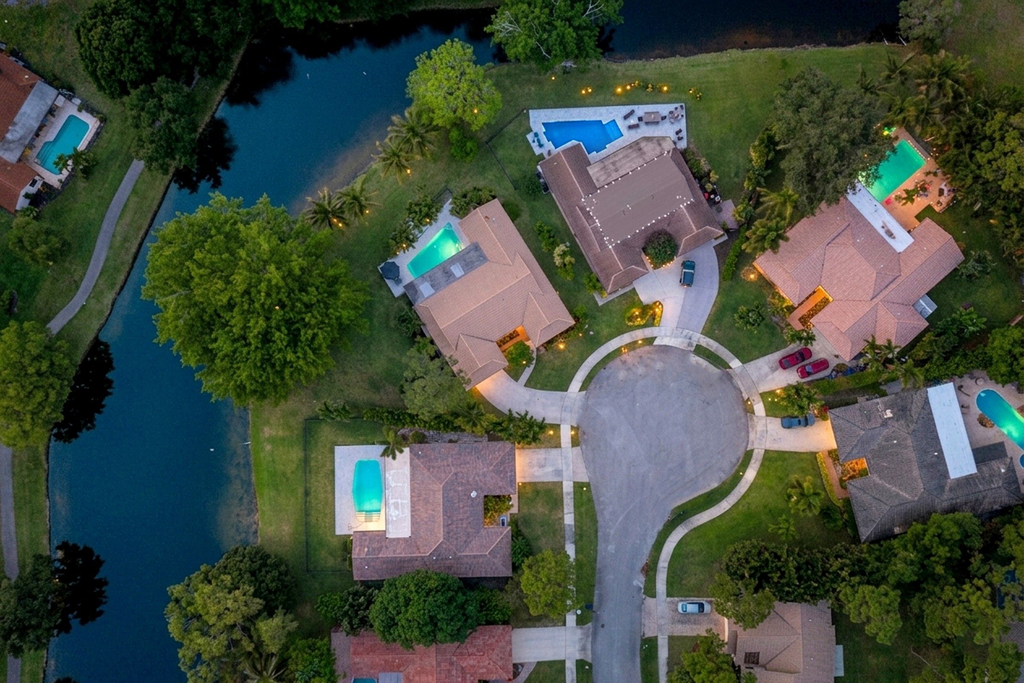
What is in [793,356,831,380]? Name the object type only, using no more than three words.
car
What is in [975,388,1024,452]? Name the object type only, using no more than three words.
swimming pool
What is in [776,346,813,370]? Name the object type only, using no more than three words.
car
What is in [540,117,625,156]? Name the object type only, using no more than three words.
swimming pool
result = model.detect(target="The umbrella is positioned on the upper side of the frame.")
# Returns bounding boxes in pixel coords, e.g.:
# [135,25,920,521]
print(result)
[380,261,401,281]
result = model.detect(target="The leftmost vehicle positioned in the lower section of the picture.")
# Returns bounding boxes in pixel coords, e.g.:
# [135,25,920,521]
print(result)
[676,598,711,616]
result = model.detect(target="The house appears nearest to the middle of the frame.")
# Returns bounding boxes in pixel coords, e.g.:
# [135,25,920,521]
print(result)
[403,198,575,391]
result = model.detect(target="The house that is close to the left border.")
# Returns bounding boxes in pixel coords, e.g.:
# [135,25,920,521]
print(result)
[0,55,70,214]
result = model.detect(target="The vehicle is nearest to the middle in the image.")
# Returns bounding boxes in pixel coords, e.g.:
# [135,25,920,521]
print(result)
[680,260,695,289]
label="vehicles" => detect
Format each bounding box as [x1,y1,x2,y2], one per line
[776,346,813,370]
[778,414,816,430]
[680,260,695,289]
[676,598,711,616]
[793,356,831,380]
